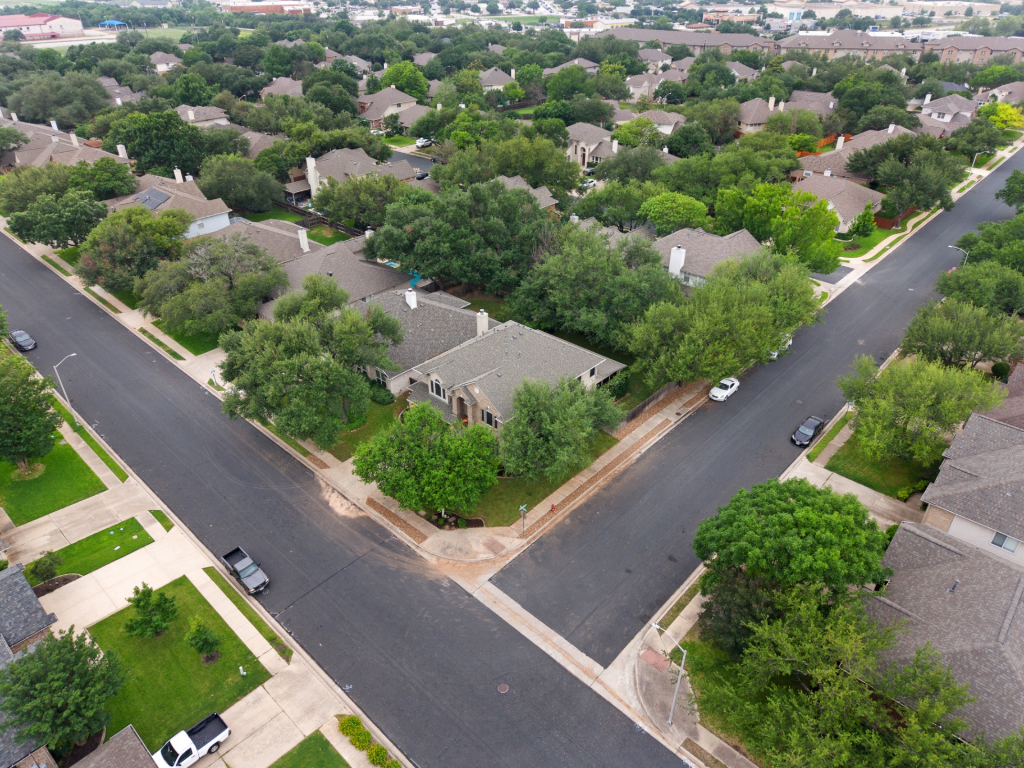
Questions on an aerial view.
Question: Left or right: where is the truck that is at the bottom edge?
left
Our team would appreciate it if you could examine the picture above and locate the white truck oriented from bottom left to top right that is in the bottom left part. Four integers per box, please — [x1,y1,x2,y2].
[153,705,242,768]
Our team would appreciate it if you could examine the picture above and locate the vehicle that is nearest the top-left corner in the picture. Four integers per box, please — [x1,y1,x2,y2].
[9,329,38,352]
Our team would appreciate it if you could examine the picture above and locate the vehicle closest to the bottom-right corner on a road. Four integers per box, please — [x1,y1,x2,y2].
[790,415,825,447]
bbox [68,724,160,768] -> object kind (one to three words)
house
